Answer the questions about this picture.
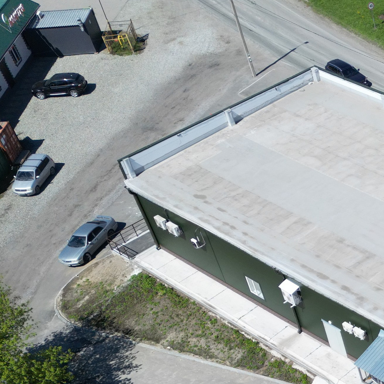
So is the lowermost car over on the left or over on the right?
left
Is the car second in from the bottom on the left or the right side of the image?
left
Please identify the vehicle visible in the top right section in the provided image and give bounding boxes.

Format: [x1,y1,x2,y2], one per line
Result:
[326,53,383,87]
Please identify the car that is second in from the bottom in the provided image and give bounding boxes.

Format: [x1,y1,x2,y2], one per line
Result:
[6,151,55,194]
